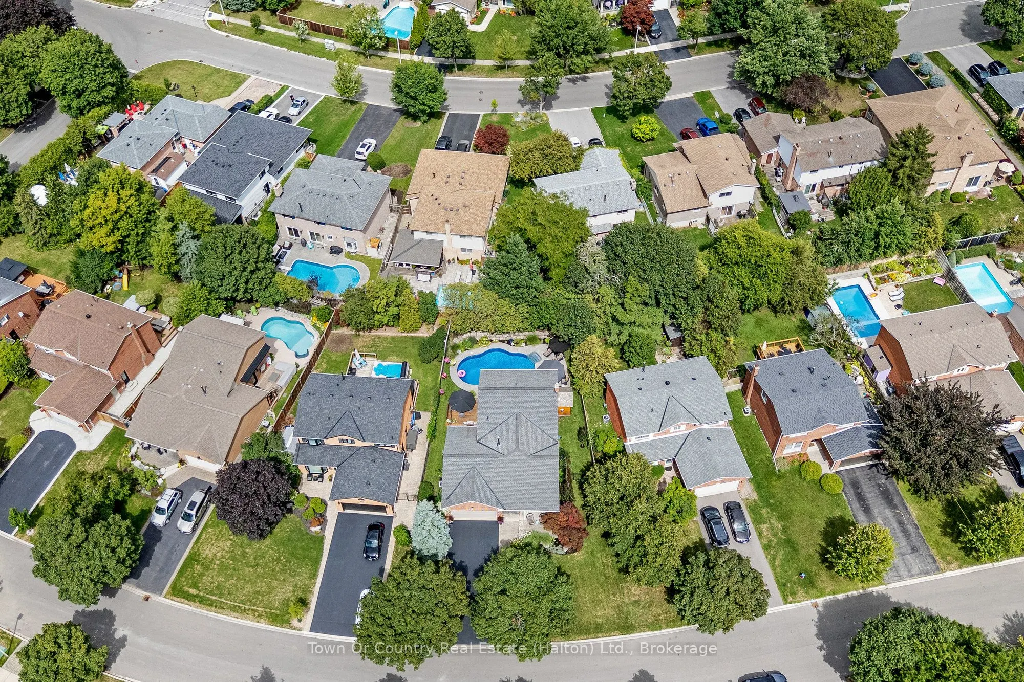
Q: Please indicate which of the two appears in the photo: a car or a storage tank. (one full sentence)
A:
Visible in the photo is a car.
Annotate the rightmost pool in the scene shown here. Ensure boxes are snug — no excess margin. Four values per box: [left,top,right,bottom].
[954,259,1018,314]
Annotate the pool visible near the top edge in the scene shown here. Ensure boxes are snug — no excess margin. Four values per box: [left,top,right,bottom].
[379,4,417,39]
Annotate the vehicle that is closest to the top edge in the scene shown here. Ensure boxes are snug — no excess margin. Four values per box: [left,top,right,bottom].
[649,14,662,38]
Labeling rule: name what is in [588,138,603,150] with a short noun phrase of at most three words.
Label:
vehicle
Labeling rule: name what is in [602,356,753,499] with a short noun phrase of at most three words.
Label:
house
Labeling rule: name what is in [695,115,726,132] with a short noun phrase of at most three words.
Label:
vehicle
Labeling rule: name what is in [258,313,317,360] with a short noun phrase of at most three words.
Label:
swimming pool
